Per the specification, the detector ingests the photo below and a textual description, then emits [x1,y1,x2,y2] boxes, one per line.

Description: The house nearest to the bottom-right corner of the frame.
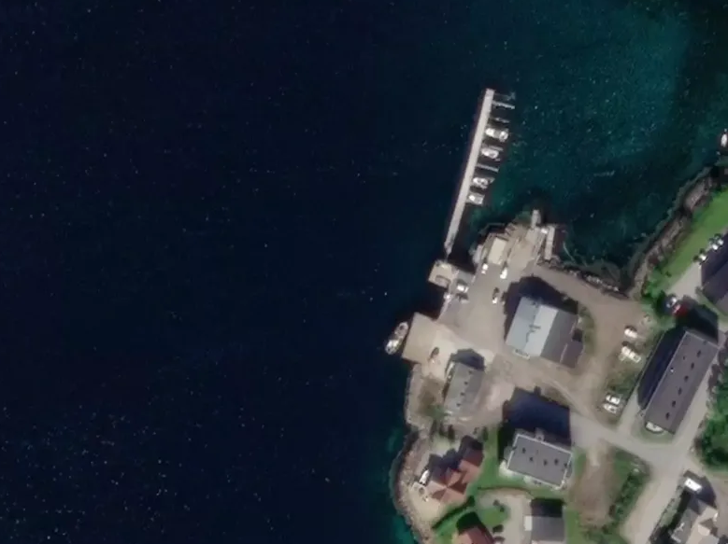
[666,500,724,544]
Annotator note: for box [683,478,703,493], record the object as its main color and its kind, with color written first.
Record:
white vehicle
